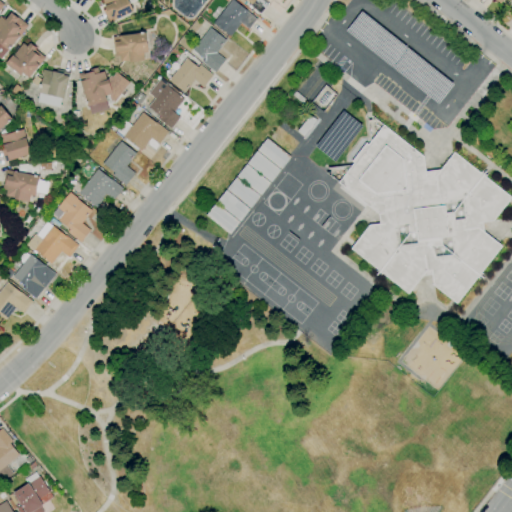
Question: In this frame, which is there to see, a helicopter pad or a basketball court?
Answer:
basketball court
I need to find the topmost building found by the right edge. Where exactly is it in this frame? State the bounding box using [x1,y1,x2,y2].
[340,124,512,304]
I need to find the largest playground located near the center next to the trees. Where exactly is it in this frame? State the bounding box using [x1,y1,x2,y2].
[218,108,374,354]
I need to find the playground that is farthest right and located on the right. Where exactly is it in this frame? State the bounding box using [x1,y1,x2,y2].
[468,264,512,358]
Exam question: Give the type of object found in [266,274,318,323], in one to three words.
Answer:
basketball court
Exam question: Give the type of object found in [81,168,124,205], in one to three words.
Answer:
house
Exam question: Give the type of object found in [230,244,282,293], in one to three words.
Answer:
basketball court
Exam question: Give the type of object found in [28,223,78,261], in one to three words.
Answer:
house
